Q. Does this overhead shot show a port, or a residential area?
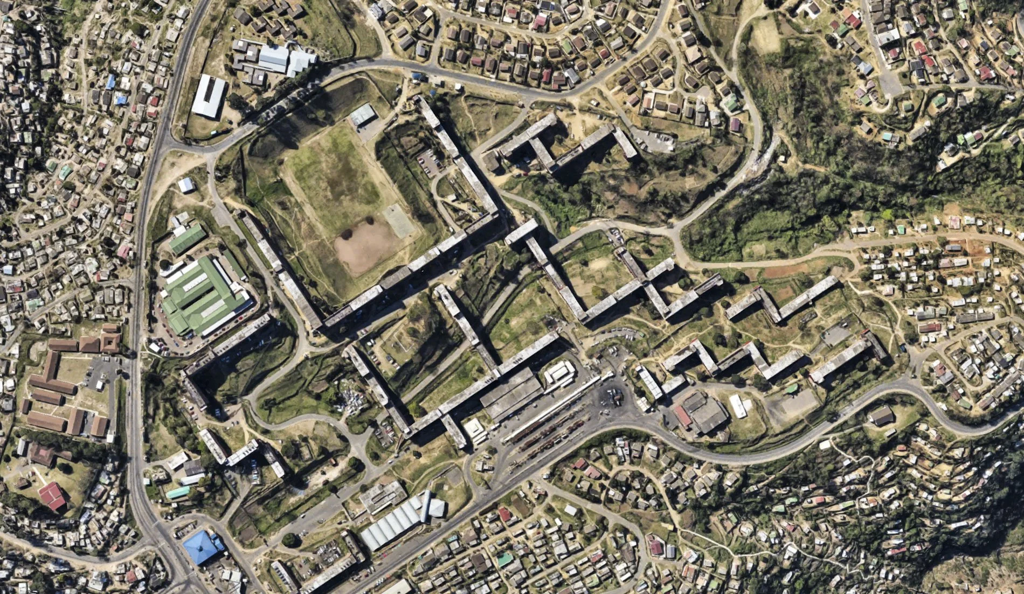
residential area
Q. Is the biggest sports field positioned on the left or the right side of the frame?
left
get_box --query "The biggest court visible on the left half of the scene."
[383,204,415,239]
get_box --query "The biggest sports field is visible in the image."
[281,121,405,276]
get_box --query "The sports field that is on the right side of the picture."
[753,20,780,55]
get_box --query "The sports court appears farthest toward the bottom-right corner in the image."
[781,389,819,419]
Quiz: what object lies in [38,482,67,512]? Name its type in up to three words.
building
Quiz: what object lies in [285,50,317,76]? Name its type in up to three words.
building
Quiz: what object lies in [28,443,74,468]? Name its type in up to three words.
house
